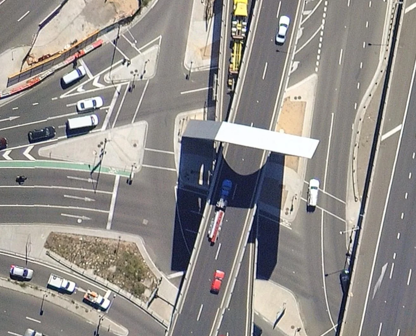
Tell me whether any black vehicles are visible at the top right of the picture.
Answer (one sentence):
No, no black vehicle is visible at the top right of the picture.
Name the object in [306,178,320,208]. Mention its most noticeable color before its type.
white car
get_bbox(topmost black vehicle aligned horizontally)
[28,126,56,142]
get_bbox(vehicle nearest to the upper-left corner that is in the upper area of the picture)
[59,65,88,87]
